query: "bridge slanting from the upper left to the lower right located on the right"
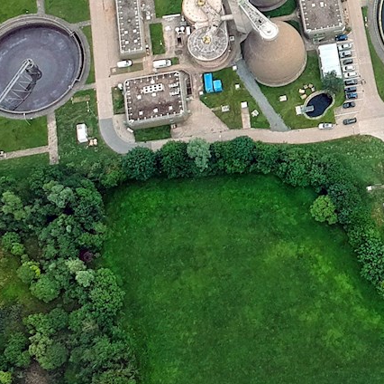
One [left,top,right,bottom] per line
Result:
[244,7,281,42]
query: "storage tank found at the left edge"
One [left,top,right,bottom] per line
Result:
[0,12,90,122]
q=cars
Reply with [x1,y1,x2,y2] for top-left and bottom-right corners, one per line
[341,99,358,110]
[335,33,350,42]
[342,70,359,79]
[341,64,357,72]
[343,78,360,87]
[338,42,354,51]
[343,85,359,94]
[318,122,334,129]
[340,56,357,66]
[339,49,354,58]
[344,90,360,99]
[342,116,359,125]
